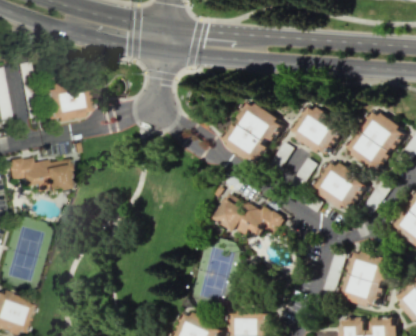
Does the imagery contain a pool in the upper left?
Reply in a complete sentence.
No, looking in the upper left, there is no pool.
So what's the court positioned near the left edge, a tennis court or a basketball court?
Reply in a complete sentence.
From above, the court positioned near the left edge can be identified as a tennis court.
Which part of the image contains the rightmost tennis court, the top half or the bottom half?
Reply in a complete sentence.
The bottom half of the photo is where the rightmost tennis court is.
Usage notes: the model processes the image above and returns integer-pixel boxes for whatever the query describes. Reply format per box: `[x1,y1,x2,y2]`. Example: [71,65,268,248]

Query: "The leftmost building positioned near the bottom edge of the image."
[0,290,41,334]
